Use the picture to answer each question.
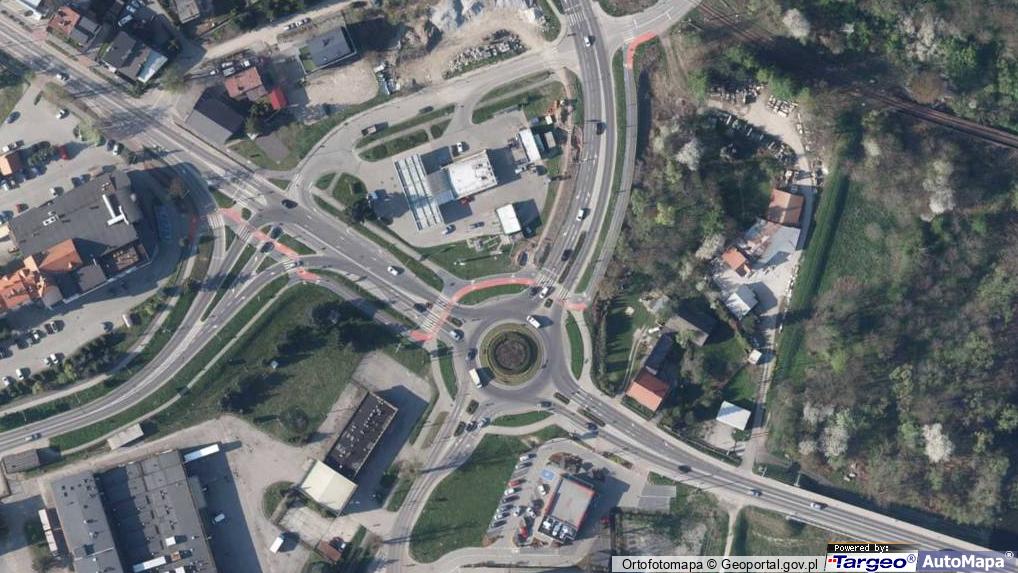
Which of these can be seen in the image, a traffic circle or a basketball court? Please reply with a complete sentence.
The image shows a traffic circle.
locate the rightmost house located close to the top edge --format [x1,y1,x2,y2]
[299,27,357,76]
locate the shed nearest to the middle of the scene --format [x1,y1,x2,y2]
[496,204,521,234]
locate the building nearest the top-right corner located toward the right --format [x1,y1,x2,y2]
[766,188,803,225]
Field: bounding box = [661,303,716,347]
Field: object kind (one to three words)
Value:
barn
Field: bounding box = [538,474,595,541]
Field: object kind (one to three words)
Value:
building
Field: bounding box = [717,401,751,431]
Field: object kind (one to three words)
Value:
shed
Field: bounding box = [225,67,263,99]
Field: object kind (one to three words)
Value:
house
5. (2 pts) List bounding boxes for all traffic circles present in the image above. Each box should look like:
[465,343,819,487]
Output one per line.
[457,298,567,409]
